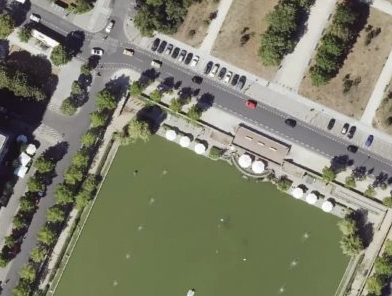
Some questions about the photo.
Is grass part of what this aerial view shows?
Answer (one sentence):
Yes, some grass is visible.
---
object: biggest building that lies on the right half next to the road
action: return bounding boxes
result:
[232,126,289,167]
